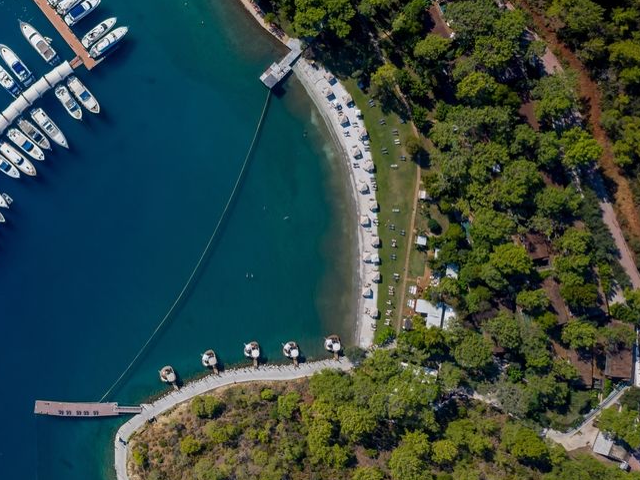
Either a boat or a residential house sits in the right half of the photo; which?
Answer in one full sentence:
What appears in the right half of the photo is a residential house.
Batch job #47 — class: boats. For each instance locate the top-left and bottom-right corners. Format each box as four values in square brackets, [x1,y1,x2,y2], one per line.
[0,45,33,84]
[64,0,101,28]
[2,192,12,204]
[31,108,68,148]
[66,75,100,113]
[81,19,117,50]
[0,65,20,94]
[7,128,44,160]
[48,0,64,8]
[17,18,57,62]
[58,0,83,17]
[0,142,36,176]
[0,155,21,178]
[19,119,52,149]
[89,26,129,60]
[56,87,81,119]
